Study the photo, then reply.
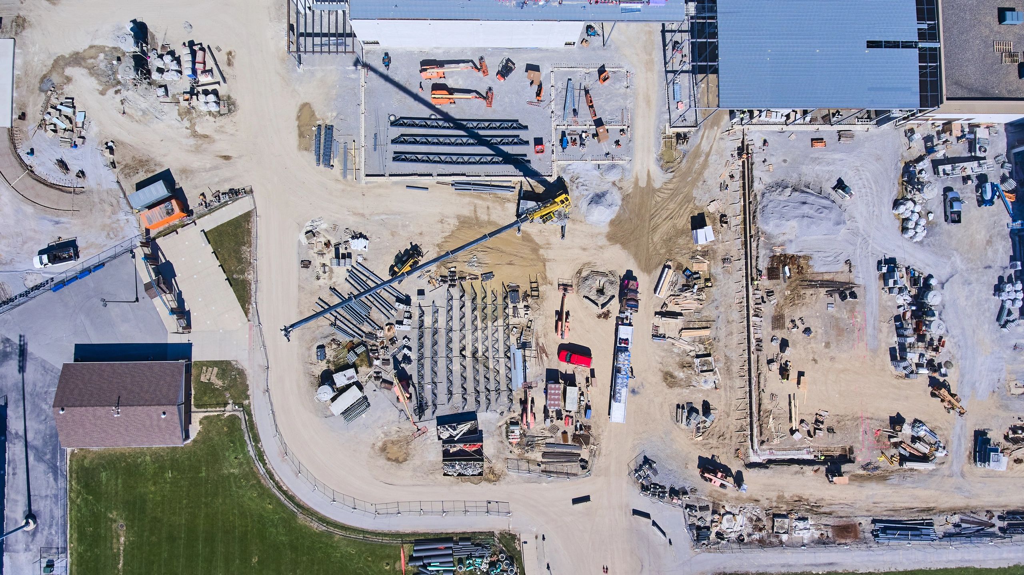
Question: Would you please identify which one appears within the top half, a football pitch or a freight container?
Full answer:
The one visible within the top half is a freight container.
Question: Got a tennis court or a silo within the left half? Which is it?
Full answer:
Looking within the left half, you will find a silo.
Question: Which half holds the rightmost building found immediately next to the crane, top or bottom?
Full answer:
It is in the top half that the rightmost building found immediately next to the crane appears.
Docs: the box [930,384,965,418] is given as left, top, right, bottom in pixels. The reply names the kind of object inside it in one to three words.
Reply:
work vehicle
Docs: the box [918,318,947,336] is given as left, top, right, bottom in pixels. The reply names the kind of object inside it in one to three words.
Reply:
silo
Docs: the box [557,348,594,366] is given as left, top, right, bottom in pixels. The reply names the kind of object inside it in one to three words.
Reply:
vehicle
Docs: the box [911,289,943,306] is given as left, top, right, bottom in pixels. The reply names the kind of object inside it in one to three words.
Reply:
silo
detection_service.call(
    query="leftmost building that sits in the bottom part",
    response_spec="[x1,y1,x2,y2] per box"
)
[51,362,193,448]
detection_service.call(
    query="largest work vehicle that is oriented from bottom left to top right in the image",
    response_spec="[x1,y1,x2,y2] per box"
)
[390,245,427,276]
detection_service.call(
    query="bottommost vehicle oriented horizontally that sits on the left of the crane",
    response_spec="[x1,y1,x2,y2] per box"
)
[36,247,80,265]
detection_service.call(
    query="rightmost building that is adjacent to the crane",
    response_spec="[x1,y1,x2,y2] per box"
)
[668,0,939,128]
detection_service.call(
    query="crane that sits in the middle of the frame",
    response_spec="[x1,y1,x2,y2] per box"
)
[273,186,579,346]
